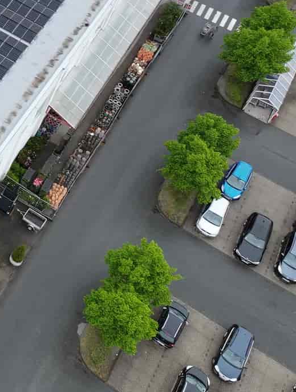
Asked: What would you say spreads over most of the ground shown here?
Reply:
paved ground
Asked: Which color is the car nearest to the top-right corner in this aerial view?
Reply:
blue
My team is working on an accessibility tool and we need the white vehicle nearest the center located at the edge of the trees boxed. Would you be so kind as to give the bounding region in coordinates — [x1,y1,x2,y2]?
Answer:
[194,193,233,241]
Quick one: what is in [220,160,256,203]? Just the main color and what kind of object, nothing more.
blue car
